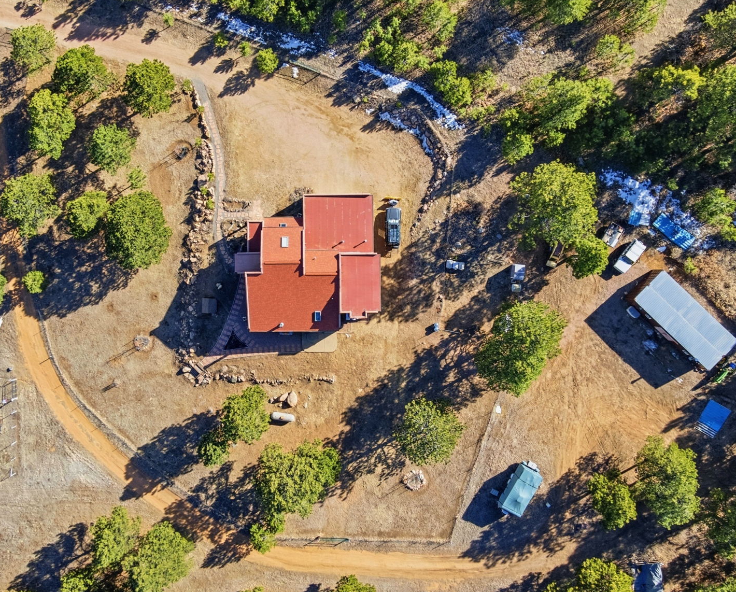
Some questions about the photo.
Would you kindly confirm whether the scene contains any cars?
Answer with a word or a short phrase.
Yes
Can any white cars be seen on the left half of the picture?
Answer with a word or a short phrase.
No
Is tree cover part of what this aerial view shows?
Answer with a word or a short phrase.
Yes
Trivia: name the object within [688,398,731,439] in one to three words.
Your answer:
shed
